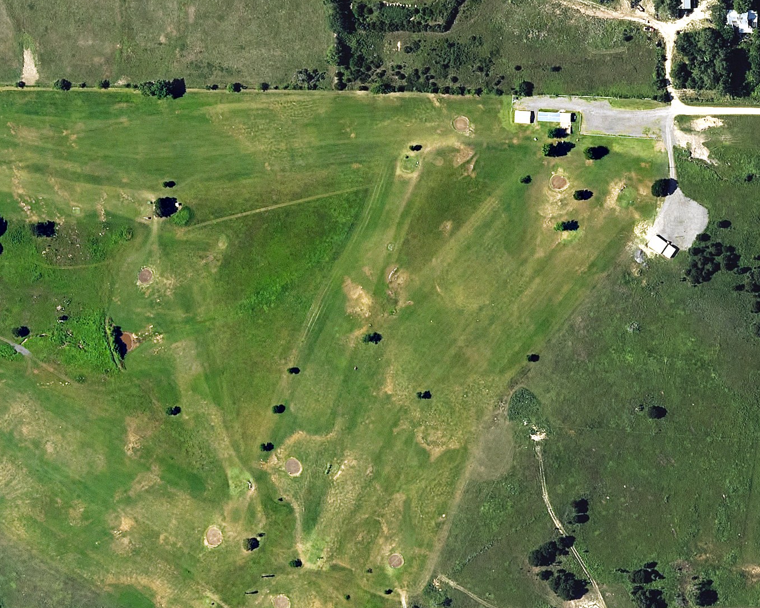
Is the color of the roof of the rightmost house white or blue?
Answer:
white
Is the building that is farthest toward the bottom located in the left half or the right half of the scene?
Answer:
right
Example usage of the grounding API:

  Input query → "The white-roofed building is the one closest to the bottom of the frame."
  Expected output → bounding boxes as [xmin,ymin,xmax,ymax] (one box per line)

[648,235,680,261]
